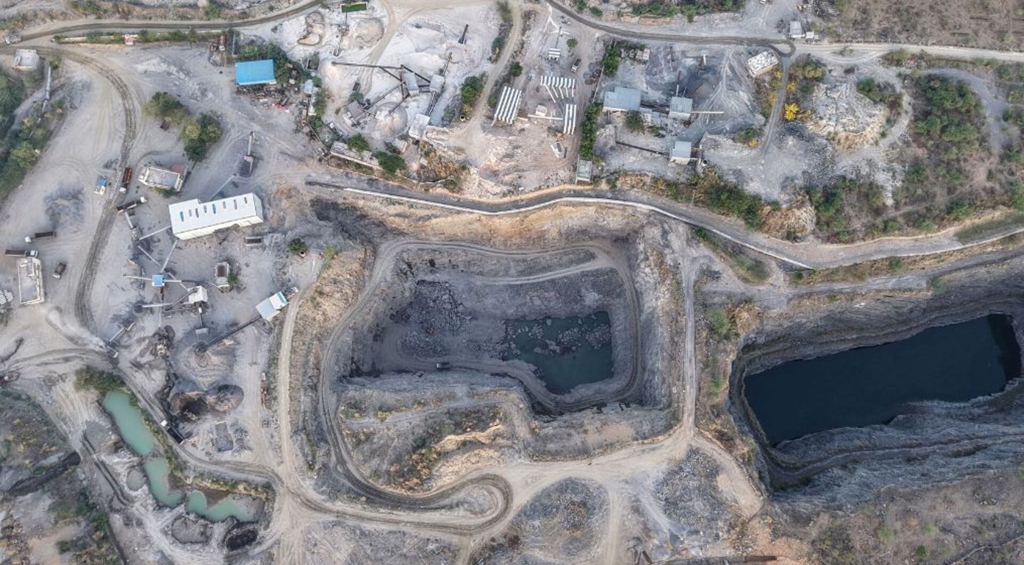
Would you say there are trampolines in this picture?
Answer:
No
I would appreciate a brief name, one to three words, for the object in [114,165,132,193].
vehicle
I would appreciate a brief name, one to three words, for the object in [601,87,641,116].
shed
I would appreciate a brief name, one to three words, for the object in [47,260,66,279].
vehicle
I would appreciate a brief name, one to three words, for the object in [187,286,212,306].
house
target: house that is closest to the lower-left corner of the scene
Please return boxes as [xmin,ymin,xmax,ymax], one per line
[18,258,52,307]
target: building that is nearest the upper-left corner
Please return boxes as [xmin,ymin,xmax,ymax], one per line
[14,49,44,72]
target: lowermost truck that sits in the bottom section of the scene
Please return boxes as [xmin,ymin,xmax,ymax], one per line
[156,417,185,446]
